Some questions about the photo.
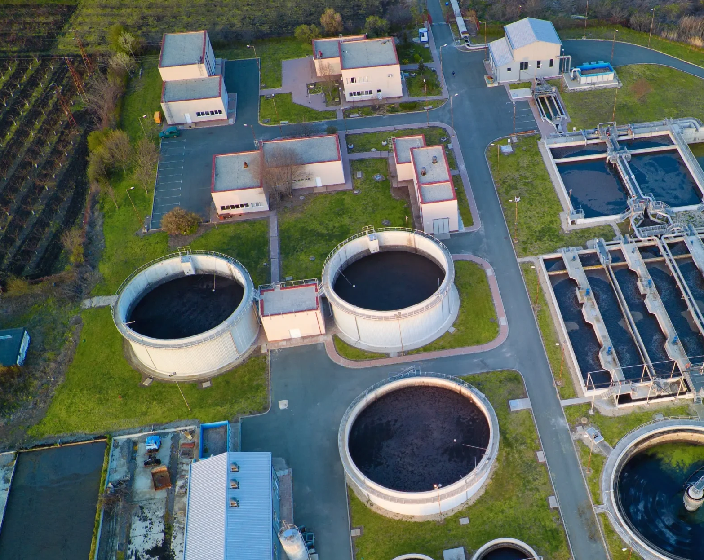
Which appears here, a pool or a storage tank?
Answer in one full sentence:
Visible in the photo is a storage tank.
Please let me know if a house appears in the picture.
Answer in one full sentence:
Yes, I can see a house in this picture.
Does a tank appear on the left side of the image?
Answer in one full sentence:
Yes, a tank can be seen on the left side of the image.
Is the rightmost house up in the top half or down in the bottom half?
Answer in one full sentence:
The rightmost house sits in the top half of the picture.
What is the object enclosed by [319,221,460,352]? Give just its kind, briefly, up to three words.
storage tank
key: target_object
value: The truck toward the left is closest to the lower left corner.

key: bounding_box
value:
[139,429,162,470]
